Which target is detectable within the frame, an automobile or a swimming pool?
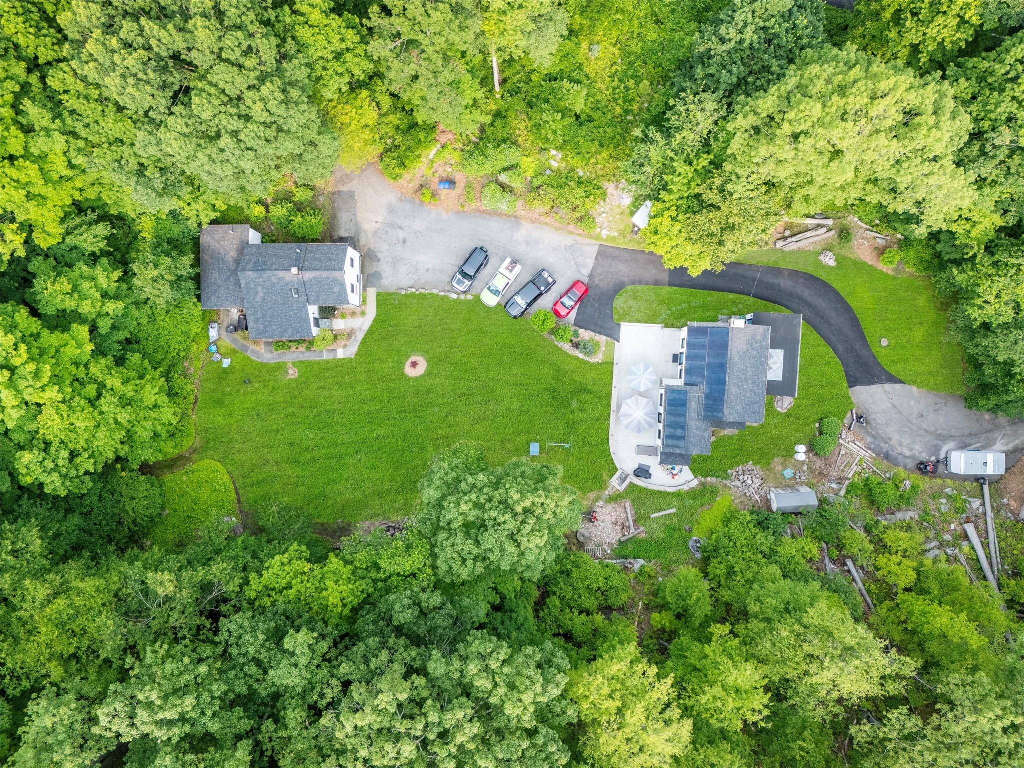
automobile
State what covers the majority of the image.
trees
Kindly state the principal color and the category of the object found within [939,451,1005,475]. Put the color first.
white trailer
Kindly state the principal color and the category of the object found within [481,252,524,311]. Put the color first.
white truck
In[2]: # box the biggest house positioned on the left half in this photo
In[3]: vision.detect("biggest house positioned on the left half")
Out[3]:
[195,224,362,340]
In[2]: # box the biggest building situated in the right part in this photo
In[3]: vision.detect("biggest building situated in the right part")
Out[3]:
[656,311,803,466]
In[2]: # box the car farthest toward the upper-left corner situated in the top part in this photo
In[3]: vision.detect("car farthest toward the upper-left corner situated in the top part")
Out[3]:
[455,247,488,291]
